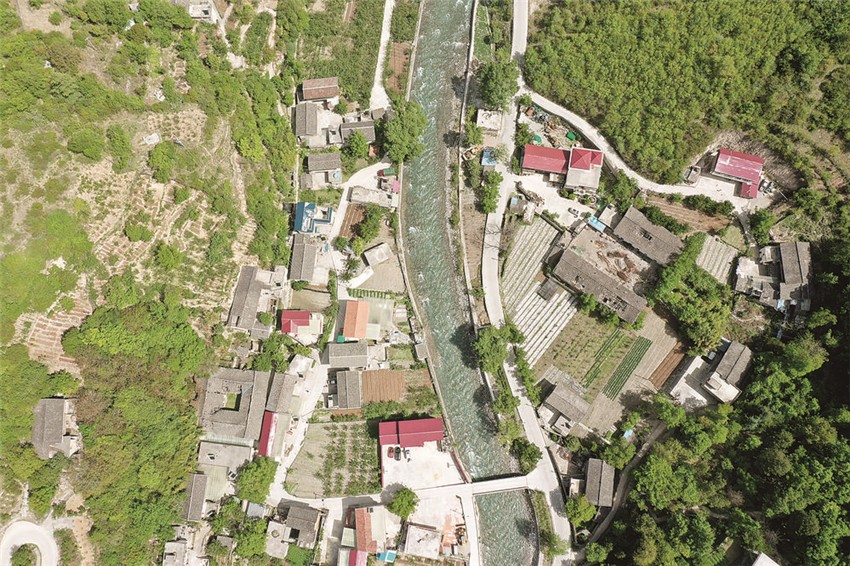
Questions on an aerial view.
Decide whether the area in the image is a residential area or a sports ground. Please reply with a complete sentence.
What you see here is a residential area.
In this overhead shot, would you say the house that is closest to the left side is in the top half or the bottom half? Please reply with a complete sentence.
You can find the house that is closest to the left side in the bottom half.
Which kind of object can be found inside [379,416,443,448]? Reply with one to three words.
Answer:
barn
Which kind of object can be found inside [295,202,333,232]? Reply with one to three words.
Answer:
house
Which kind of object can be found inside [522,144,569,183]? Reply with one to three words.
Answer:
building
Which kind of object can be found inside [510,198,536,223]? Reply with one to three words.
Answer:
shed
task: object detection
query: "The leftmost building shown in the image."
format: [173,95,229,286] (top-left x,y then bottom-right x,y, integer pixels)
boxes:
[31,398,84,458]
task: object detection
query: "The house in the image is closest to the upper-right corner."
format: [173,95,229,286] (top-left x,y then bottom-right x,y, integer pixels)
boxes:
[709,148,765,198]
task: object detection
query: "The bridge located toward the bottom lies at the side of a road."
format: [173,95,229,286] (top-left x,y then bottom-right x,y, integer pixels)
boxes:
[470,475,530,495]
